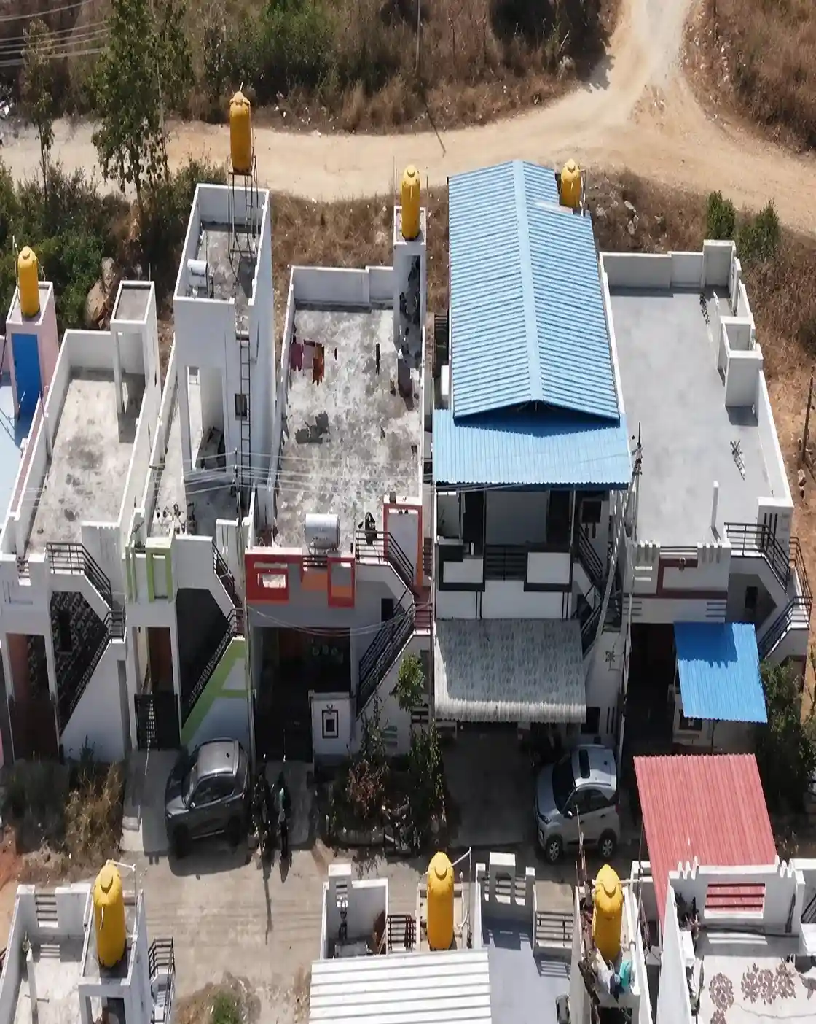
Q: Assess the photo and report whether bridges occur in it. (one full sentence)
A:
No, I can't see a single bridge in this photo.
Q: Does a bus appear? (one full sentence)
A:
No, the scene contains no bus.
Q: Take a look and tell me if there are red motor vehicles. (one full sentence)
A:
No, I can't see a single red motor vehicle in this photo.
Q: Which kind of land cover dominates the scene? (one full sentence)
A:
What you mostly see from above here is buildings.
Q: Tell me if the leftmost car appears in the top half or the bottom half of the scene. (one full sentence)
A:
The bottom half of the photo is where the leftmost car is.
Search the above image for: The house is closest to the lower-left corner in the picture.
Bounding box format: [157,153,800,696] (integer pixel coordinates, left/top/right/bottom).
[0,876,179,1024]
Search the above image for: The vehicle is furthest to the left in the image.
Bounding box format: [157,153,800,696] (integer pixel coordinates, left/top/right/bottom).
[163,740,252,856]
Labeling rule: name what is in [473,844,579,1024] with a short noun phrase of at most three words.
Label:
house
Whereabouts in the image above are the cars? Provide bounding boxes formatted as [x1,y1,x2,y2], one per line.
[163,740,252,856]
[533,751,623,864]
